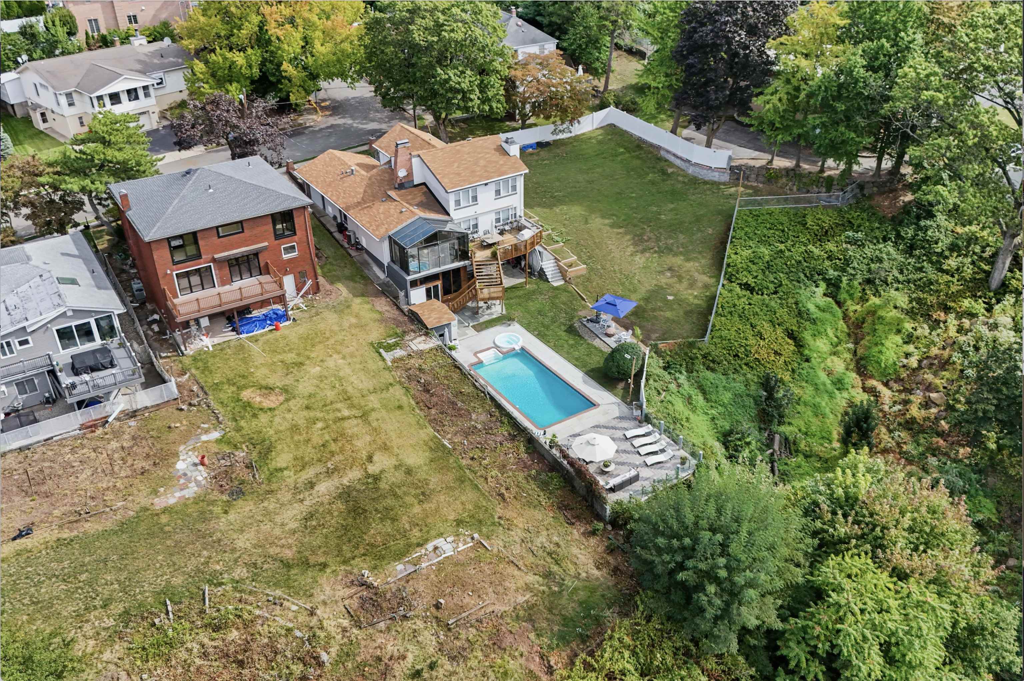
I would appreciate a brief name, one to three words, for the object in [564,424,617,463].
umbrella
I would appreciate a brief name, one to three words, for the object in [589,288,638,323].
umbrella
